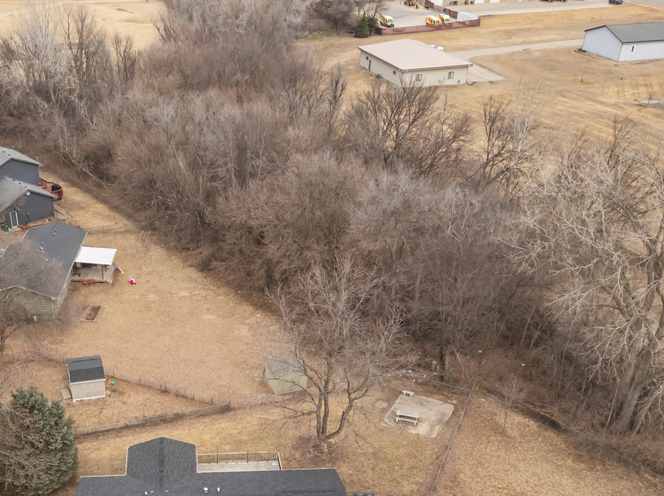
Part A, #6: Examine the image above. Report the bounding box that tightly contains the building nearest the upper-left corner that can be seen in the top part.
[0,147,70,230]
